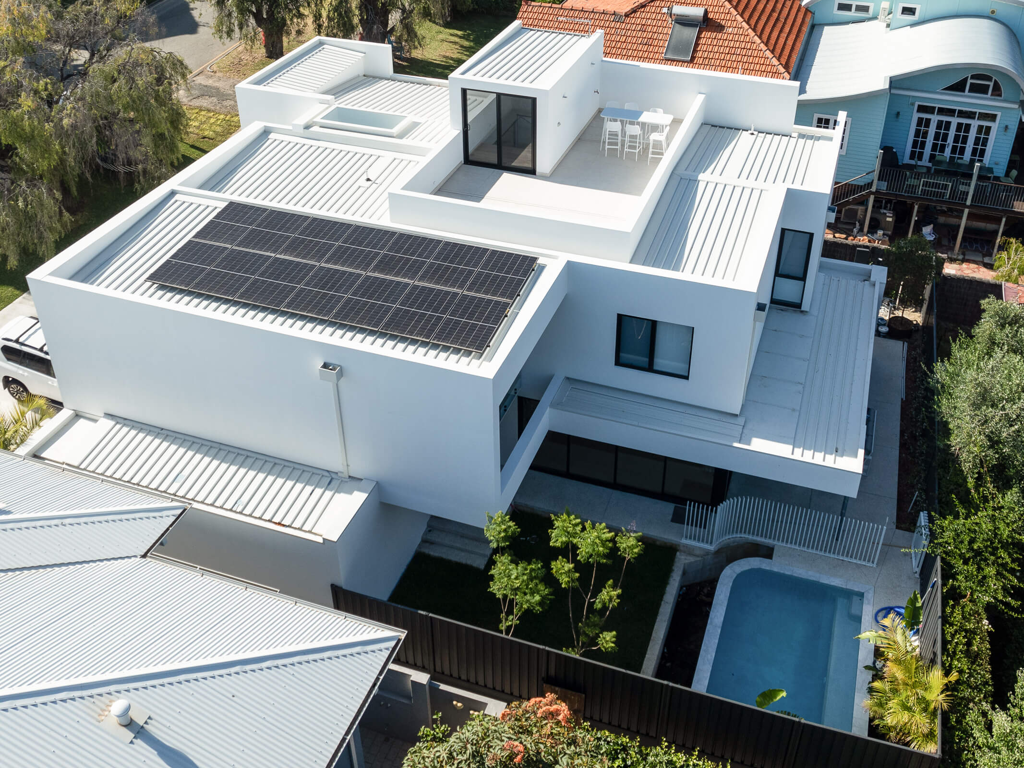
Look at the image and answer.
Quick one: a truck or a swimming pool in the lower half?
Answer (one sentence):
Looking in the lower half, you will find a swimming pool.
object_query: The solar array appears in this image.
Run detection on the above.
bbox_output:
[144,204,537,349]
